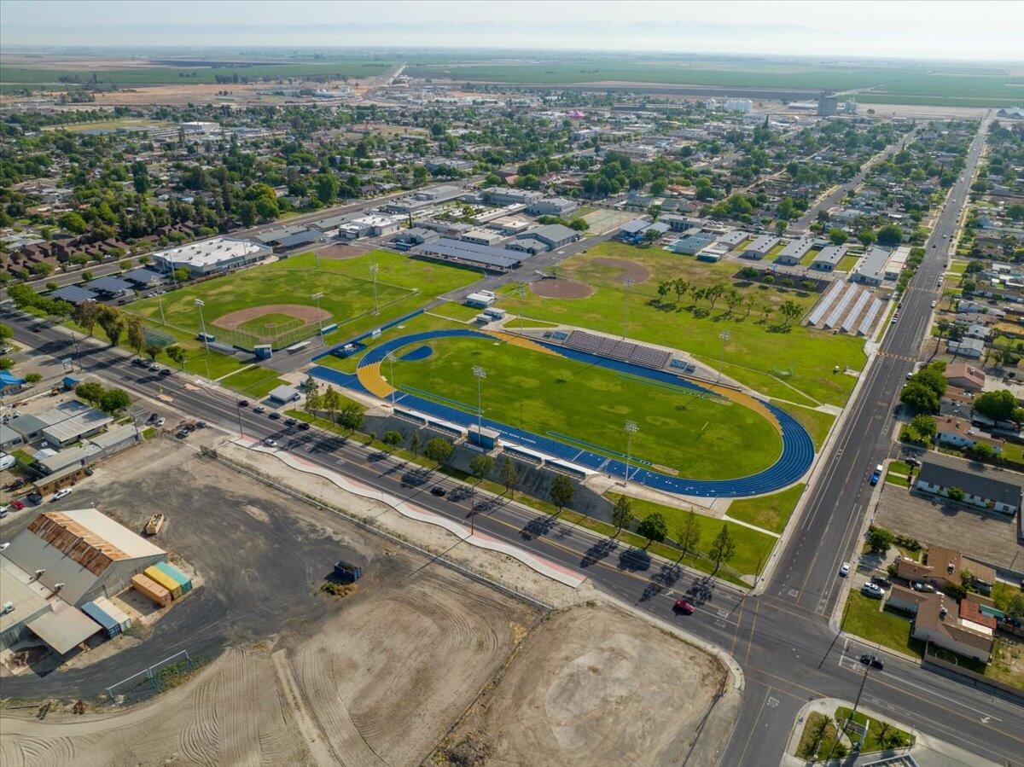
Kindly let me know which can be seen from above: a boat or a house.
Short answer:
house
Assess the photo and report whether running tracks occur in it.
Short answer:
Yes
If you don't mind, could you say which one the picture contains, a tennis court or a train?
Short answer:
tennis court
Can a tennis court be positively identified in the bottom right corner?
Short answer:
No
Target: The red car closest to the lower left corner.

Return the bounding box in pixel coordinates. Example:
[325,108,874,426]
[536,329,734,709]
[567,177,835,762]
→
[11,498,23,511]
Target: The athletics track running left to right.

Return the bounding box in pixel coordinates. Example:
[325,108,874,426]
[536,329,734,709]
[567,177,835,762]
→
[359,329,810,497]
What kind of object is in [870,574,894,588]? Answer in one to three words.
car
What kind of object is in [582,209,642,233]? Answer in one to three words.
tennis court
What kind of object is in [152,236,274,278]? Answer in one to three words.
building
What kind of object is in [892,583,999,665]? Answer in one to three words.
house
